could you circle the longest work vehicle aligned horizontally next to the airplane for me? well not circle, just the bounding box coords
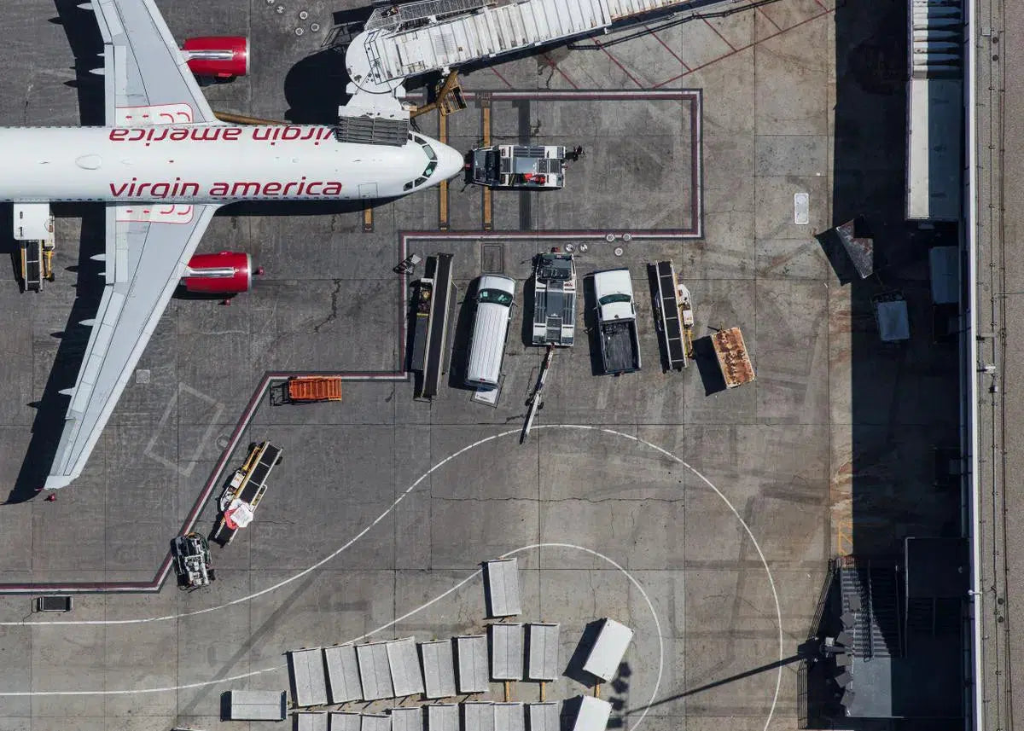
[470,142,569,191]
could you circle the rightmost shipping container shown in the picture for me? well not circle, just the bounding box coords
[926,247,955,304]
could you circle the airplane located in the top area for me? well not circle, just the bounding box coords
[0,0,464,490]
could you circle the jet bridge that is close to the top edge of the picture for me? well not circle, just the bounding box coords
[339,0,741,148]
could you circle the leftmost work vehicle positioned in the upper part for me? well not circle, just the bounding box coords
[20,211,60,297]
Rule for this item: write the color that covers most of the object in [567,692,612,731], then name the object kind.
white trailer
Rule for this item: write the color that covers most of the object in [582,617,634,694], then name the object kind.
white trailer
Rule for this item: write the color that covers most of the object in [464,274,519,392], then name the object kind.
white van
